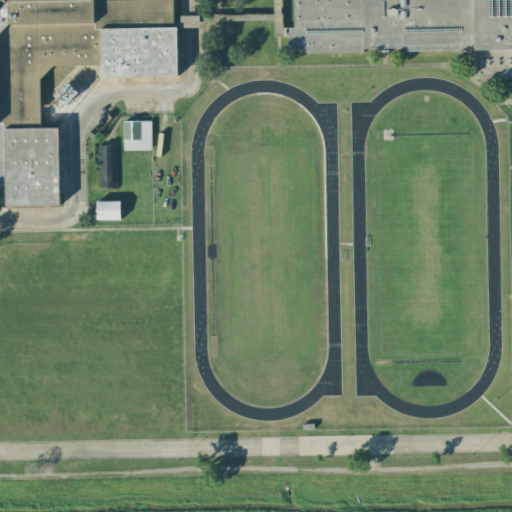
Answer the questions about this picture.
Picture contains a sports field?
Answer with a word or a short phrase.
Yes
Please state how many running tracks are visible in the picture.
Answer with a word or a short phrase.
2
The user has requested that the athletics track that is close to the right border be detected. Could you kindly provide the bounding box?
[352,77,502,418]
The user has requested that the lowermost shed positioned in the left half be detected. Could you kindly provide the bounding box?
[96,202,121,220]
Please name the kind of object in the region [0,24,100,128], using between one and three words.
building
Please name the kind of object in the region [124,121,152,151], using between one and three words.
shed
